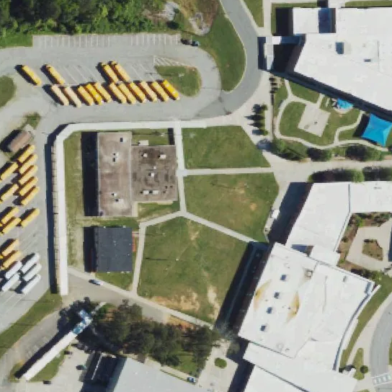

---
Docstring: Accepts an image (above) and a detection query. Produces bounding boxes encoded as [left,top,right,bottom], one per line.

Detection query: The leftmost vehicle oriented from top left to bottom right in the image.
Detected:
[19,65,41,86]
